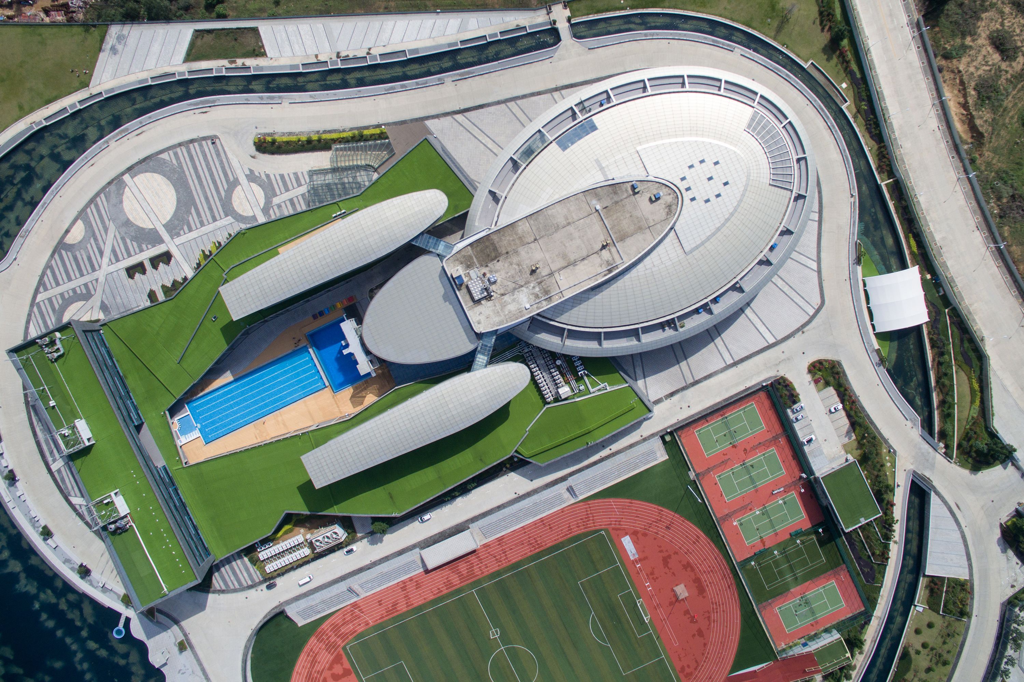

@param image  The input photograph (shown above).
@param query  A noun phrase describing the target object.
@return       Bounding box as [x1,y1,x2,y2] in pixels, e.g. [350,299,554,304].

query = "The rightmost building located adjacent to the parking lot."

[813,454,881,534]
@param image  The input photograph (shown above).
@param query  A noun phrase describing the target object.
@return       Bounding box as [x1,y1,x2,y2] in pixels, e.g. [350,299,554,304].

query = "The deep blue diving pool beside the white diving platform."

[305,315,376,395]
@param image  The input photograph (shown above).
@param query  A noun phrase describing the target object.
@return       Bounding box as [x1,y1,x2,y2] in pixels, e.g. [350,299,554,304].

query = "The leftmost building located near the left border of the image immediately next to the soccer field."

[6,319,228,612]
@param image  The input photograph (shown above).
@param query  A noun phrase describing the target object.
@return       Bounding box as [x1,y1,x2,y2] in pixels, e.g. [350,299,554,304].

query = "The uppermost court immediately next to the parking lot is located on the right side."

[694,402,765,457]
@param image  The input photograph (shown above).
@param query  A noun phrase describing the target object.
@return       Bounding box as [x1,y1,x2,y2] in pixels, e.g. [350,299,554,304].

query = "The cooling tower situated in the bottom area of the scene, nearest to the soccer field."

[311,523,349,552]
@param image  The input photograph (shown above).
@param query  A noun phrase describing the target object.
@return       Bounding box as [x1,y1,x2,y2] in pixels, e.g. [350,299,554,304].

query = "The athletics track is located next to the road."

[286,498,742,682]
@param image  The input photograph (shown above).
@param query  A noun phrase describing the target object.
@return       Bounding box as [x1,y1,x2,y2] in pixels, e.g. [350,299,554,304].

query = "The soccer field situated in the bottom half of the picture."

[343,528,674,682]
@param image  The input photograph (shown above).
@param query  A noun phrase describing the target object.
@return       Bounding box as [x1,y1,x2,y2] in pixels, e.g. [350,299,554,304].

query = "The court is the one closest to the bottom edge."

[776,581,845,633]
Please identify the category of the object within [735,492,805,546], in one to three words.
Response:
tennis court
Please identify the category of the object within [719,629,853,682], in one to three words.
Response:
building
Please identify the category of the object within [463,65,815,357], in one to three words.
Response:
building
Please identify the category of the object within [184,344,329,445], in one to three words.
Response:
swimming pool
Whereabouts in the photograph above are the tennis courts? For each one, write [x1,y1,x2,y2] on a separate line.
[735,492,805,546]
[756,537,825,590]
[776,581,845,633]
[694,402,765,457]
[715,448,785,502]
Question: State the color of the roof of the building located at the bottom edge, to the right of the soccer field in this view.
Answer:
red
